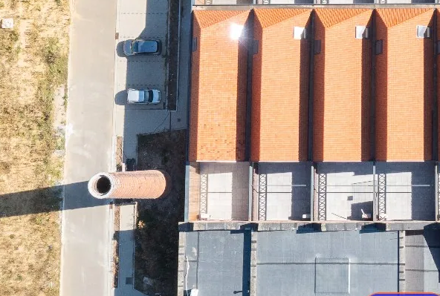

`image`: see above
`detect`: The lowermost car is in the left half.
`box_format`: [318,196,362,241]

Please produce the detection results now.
[128,87,164,105]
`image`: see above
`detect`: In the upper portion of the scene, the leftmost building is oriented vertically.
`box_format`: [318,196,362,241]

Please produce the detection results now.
[188,8,253,163]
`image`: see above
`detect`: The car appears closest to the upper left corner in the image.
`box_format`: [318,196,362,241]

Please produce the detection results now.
[125,38,162,56]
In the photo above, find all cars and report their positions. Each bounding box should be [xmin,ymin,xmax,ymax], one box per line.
[128,87,164,105]
[125,38,162,56]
